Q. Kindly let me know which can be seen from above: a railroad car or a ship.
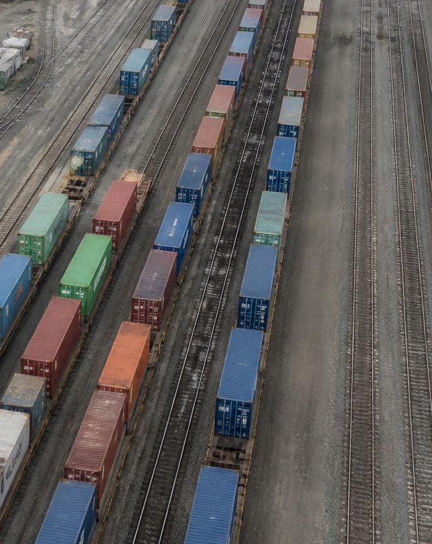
railroad car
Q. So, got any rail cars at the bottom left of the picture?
Yes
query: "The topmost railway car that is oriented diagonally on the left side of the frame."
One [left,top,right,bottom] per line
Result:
[148,10,183,51]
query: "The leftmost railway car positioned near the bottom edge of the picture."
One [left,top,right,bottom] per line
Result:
[0,399,55,532]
